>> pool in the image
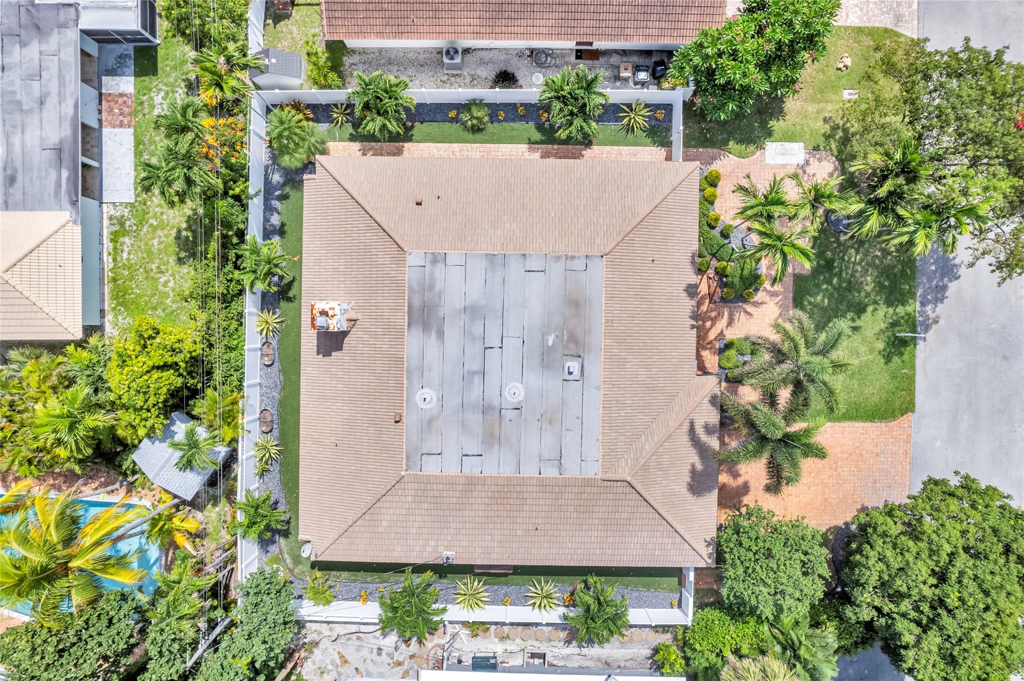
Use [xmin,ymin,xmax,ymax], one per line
[0,491,168,620]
